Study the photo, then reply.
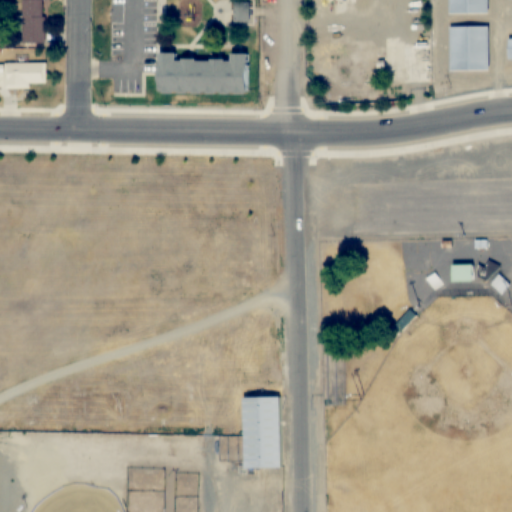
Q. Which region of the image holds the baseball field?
bottom right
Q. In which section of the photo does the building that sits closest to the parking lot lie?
top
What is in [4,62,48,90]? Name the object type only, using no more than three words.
house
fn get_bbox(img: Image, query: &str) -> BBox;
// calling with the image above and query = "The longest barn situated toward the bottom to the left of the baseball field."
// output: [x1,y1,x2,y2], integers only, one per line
[243,396,282,468]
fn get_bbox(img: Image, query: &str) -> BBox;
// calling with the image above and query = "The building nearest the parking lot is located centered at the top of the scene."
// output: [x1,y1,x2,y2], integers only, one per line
[156,52,252,95]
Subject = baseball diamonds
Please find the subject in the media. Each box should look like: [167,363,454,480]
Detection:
[318,239,512,512]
